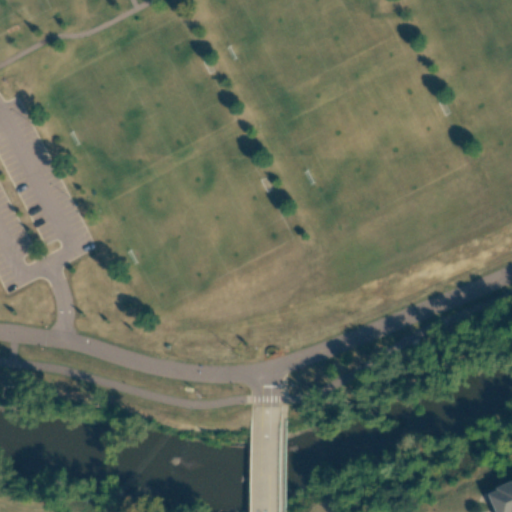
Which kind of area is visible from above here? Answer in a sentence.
This image shows a sports ground.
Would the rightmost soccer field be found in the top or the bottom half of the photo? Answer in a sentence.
You can find the rightmost soccer field in the top half.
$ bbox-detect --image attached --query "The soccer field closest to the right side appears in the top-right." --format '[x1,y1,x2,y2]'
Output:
[461,21,512,144]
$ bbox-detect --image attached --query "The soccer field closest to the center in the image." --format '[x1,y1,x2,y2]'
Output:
[104,134,294,308]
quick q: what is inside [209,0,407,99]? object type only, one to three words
soccer field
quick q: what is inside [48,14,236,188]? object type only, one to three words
soccer field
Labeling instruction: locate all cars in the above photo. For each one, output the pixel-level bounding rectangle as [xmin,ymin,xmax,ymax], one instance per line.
[85,244,96,252]
[29,206,40,214]
[6,284,17,292]
[17,184,28,192]
[34,218,45,226]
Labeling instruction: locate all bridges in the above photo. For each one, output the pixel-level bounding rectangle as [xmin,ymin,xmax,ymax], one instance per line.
[250,405,288,512]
